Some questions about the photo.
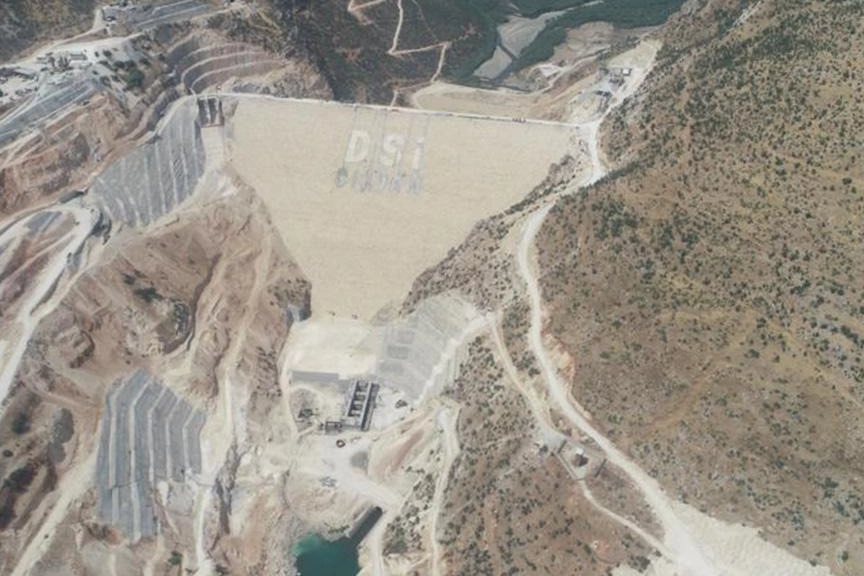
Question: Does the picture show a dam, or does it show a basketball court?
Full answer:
Visible in the photo is a dam.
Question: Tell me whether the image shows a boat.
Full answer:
No, there appears to be no boat in this shot.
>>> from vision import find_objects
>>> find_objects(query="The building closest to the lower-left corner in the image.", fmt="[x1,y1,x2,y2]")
[342,380,377,441]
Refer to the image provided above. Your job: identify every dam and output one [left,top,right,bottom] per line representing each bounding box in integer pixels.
[214,94,597,319]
